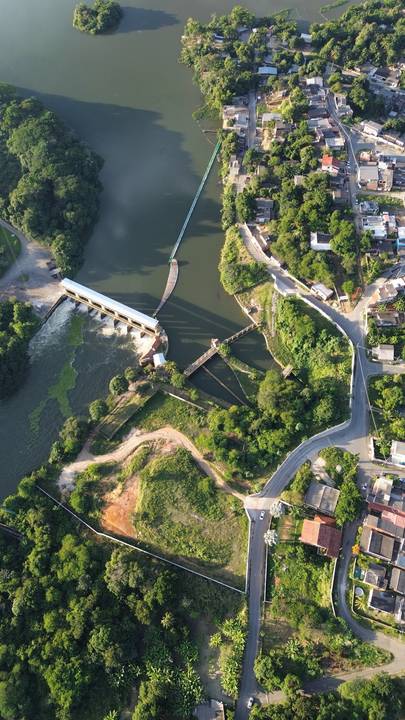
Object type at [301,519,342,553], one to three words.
house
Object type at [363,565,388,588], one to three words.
house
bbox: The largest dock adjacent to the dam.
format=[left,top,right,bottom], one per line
[154,260,179,321]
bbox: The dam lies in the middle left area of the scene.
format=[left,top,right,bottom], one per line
[58,277,162,348]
